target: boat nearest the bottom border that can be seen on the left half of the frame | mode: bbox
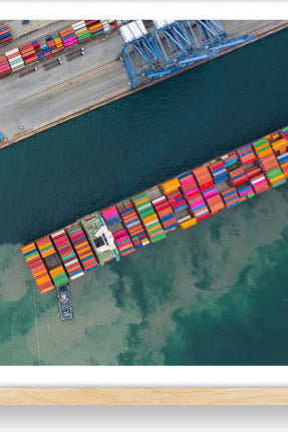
[56,282,74,322]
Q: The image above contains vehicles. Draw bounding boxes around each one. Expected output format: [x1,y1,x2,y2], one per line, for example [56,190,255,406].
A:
[67,47,84,56]
[44,58,61,65]
[20,68,38,76]
[69,51,84,60]
[46,61,62,69]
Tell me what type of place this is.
port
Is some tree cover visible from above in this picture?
No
